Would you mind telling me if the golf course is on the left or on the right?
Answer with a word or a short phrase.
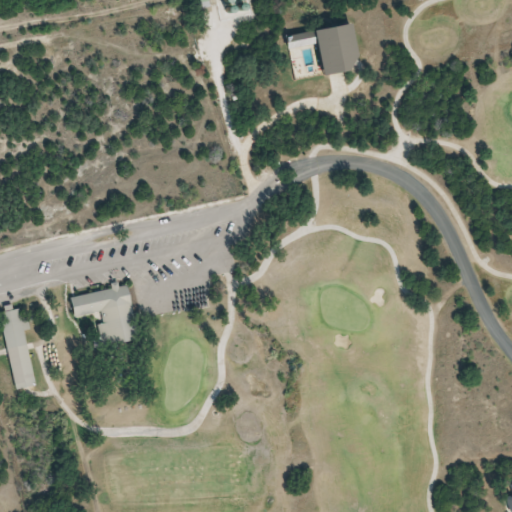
right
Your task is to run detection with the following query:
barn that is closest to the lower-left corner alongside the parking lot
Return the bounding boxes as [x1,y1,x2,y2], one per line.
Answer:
[3,304,35,390]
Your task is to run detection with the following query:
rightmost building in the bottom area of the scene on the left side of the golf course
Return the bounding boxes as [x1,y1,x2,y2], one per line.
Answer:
[70,282,132,343]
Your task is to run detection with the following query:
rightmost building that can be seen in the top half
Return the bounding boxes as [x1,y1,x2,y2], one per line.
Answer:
[317,24,359,75]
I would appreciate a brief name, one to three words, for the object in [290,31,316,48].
building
